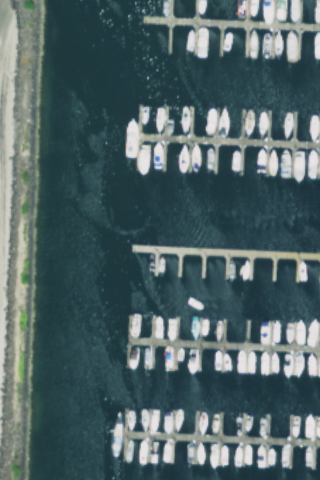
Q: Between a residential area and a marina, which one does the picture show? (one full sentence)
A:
The area seen from above is a marina.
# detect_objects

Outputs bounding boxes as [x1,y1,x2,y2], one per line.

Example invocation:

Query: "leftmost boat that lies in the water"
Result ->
[110,412,122,458]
